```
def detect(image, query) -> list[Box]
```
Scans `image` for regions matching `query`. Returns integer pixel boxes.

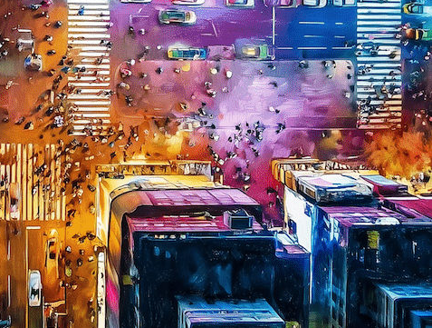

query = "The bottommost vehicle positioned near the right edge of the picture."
[399,25,431,42]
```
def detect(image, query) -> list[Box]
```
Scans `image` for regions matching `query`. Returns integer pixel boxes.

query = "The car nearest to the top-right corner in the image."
[400,1,425,17]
